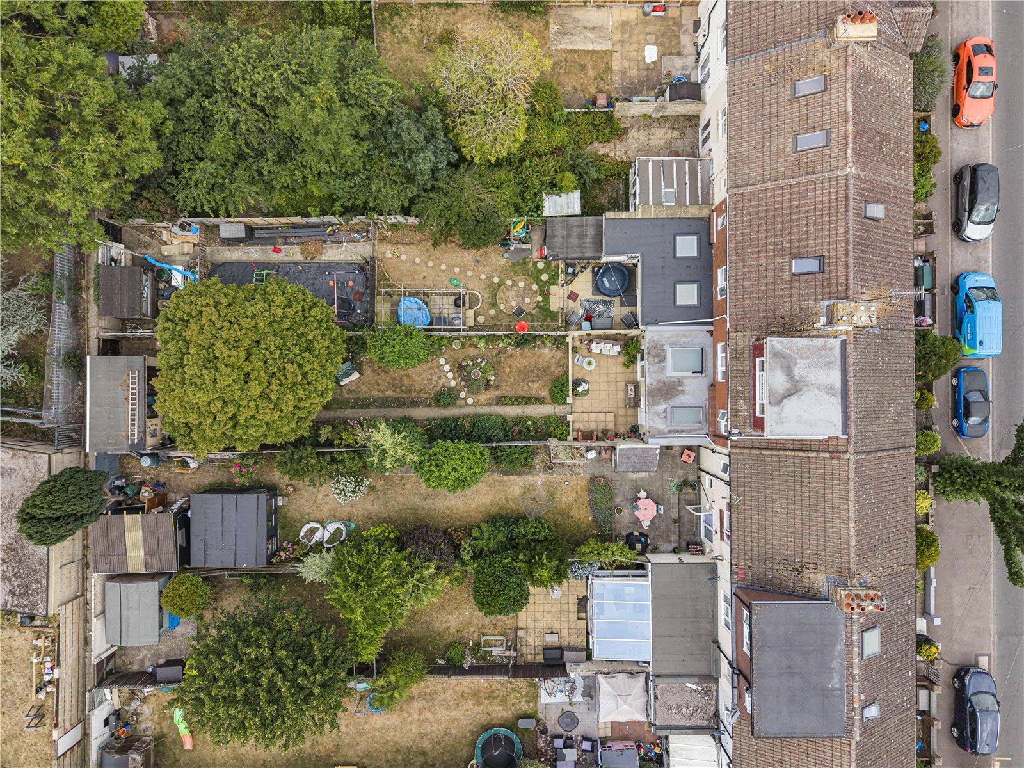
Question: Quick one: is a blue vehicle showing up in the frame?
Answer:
Yes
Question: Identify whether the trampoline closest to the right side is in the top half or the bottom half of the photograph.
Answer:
bottom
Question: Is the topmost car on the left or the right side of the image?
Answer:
right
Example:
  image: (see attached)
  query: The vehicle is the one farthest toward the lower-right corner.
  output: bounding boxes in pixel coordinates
[950,663,1005,757]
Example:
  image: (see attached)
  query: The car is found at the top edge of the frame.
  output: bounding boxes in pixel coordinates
[951,36,1004,129]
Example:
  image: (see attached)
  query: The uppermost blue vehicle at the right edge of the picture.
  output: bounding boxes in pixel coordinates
[953,269,1012,361]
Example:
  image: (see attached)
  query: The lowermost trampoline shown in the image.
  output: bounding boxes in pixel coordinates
[473,722,525,768]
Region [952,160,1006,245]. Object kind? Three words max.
car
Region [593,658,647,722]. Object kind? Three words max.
gazebo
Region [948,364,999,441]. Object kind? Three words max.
car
